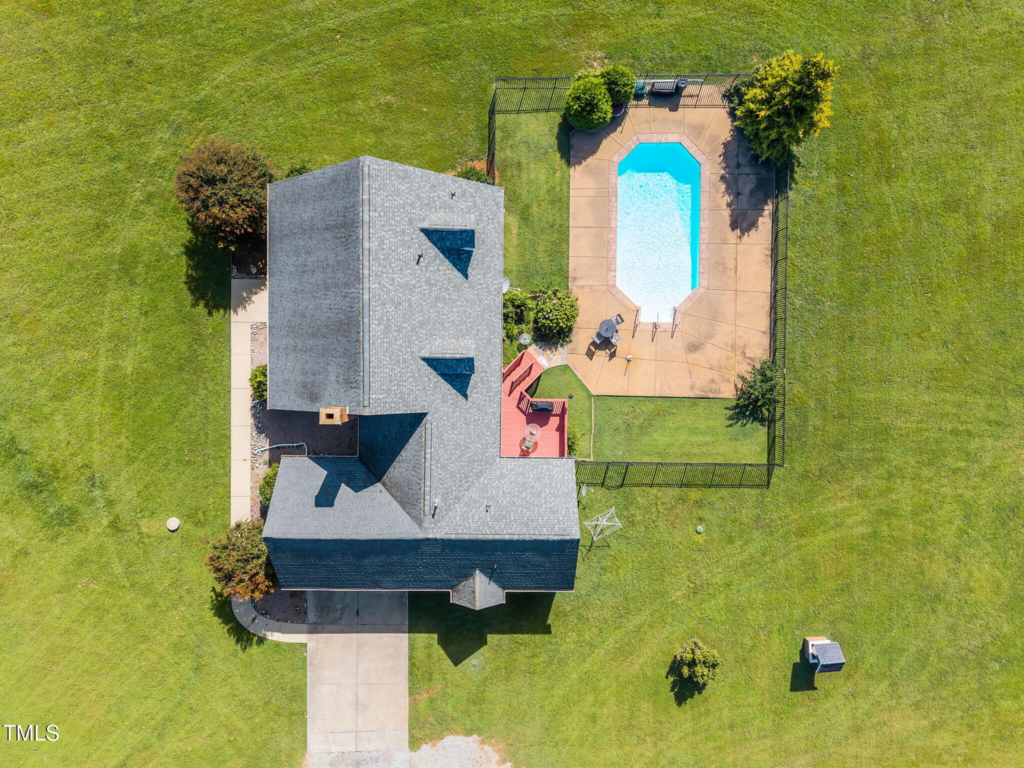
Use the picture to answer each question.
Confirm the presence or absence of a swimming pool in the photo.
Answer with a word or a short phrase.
Yes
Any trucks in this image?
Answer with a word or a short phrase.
No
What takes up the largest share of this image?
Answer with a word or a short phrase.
grass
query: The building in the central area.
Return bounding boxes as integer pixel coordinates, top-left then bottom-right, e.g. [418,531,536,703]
[263,155,580,611]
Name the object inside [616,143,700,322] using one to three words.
swimming pool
